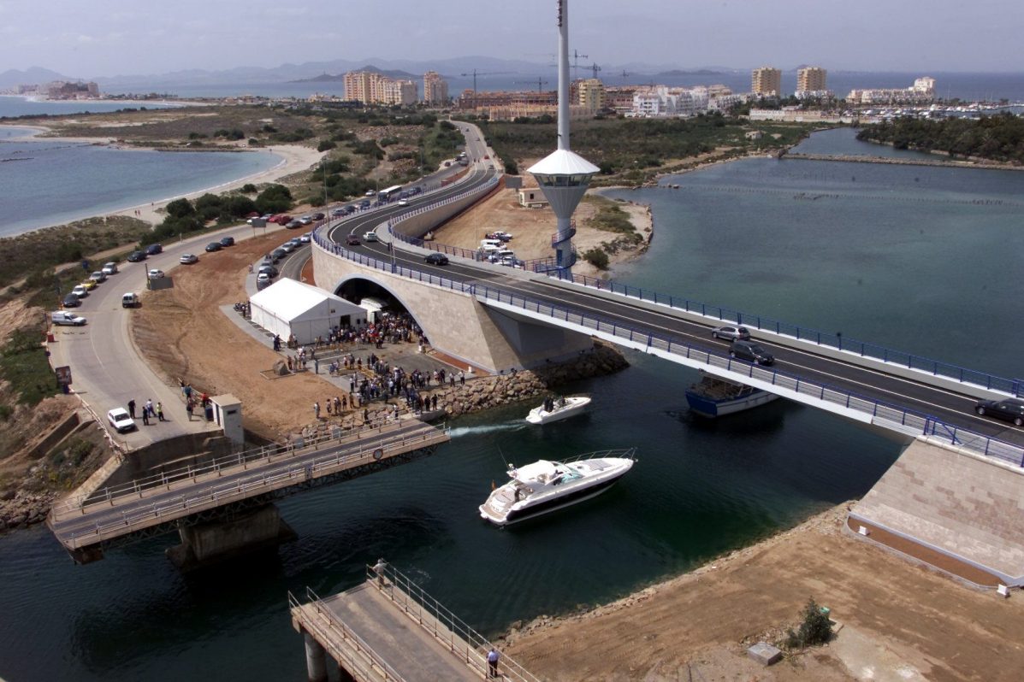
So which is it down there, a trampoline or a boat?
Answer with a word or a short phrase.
boat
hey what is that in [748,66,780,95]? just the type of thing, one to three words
building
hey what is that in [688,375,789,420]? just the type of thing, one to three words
boat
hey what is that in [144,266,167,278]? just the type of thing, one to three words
vehicle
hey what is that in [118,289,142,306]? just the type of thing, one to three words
vehicle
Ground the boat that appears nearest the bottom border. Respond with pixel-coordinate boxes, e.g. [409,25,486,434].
[473,442,639,529]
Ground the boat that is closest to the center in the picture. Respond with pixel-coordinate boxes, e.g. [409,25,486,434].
[521,390,589,424]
